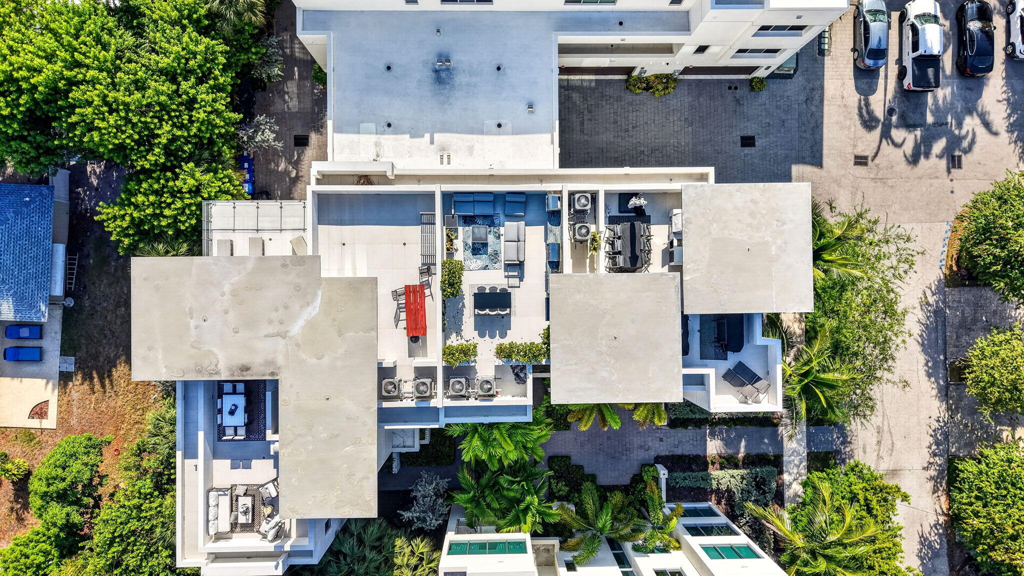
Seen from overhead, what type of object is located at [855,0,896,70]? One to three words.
car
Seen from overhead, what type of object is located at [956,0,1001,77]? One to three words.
car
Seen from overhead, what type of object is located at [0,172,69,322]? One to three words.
house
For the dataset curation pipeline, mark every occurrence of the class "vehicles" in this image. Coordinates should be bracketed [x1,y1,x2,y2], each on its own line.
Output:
[855,0,896,70]
[956,0,1001,77]
[1007,0,1024,64]
[899,0,946,91]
